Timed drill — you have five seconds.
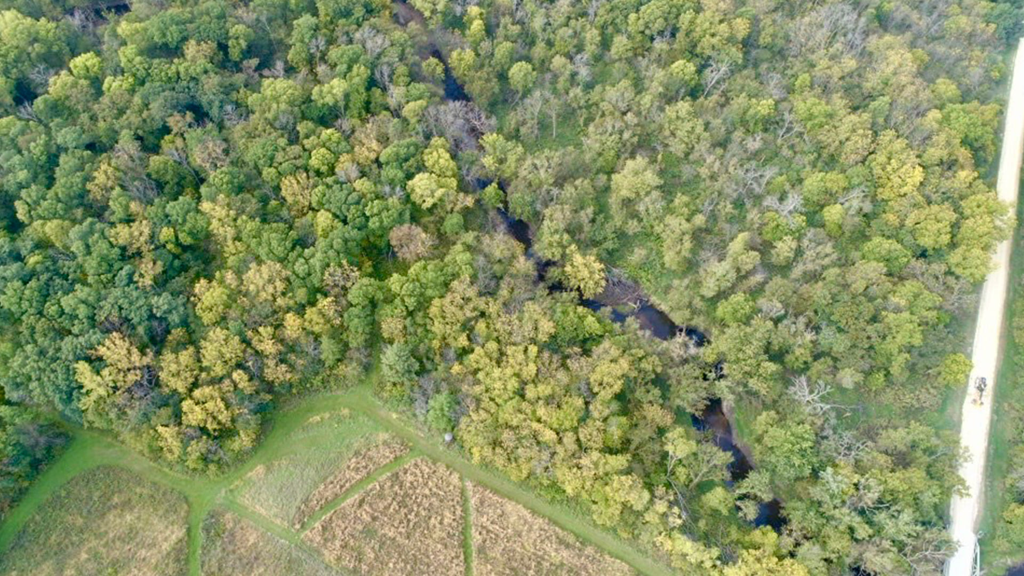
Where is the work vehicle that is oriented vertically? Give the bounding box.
[971,377,990,408]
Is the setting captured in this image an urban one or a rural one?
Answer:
rural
